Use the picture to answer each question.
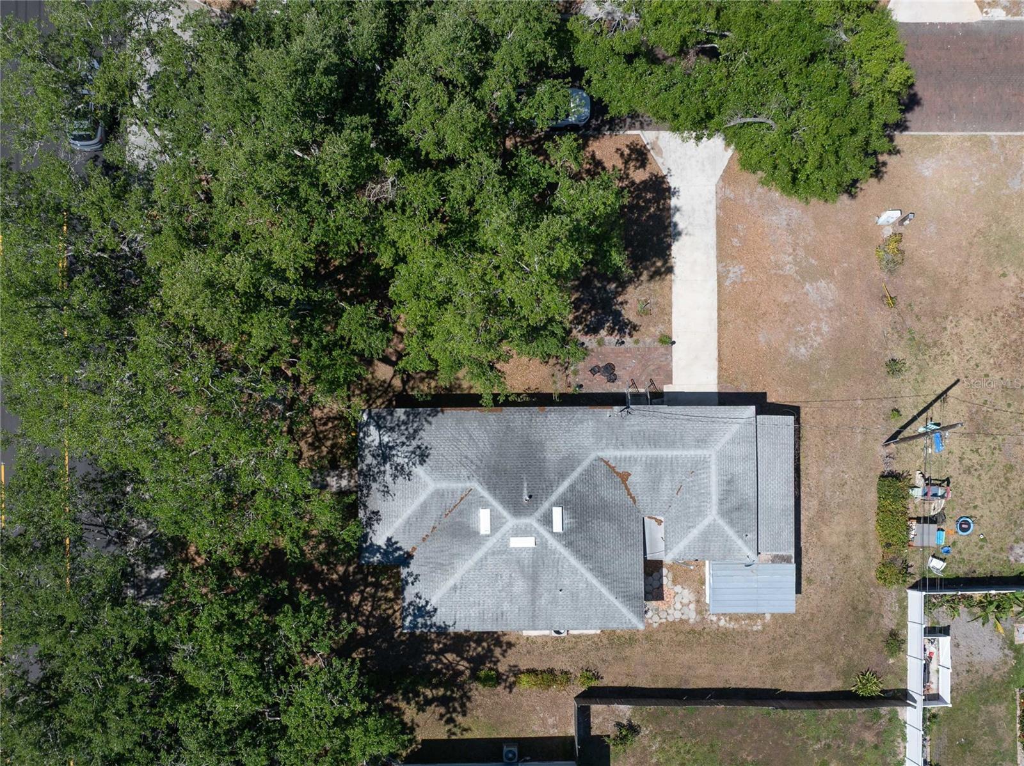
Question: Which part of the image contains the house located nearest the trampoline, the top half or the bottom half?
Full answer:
It is in the bottom half that the house located nearest the trampoline appears.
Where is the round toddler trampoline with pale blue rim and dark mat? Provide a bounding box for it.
[955,518,976,535]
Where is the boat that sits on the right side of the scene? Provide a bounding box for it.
[878,210,902,225]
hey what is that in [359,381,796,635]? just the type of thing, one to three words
house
